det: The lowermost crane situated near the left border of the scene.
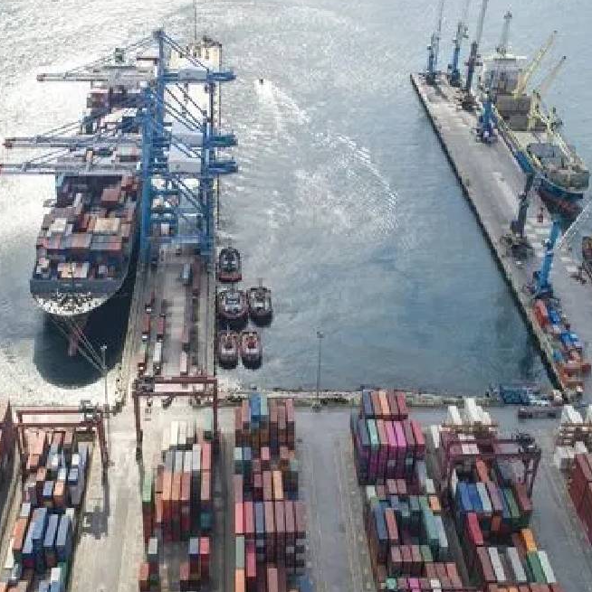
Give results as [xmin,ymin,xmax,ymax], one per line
[2,399,109,484]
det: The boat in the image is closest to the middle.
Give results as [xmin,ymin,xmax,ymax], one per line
[250,284,276,325]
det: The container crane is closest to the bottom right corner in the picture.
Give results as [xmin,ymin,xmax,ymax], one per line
[429,432,547,520]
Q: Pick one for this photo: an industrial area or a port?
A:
port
